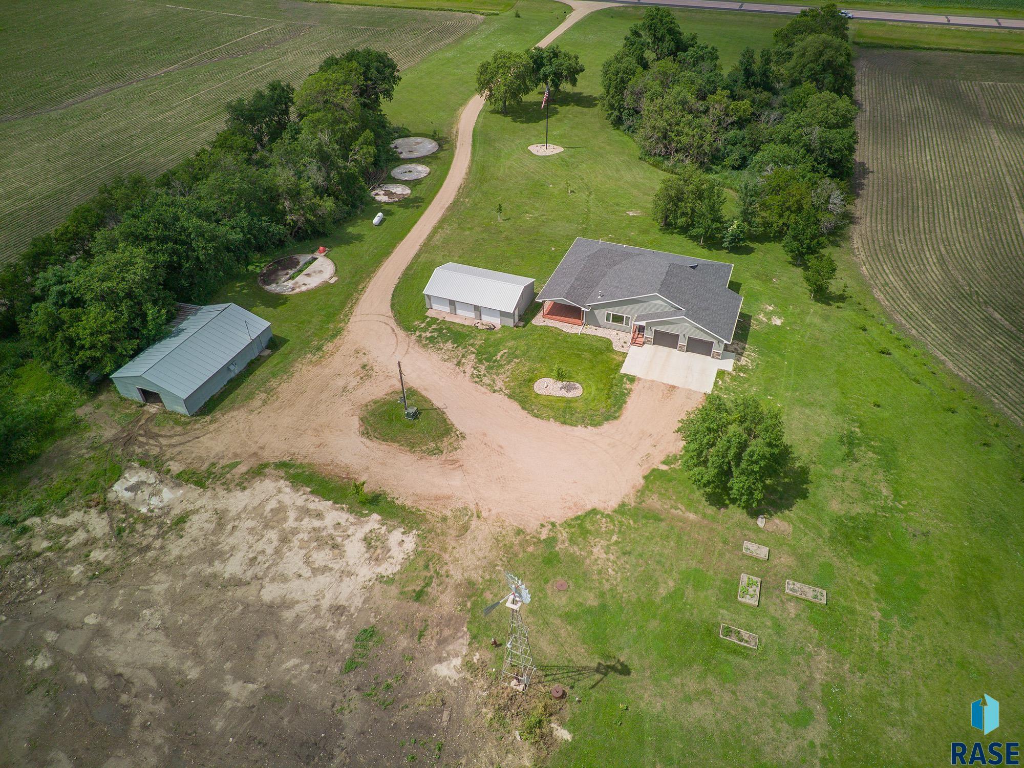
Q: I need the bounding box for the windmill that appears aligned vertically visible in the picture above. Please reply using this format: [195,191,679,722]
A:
[481,572,537,698]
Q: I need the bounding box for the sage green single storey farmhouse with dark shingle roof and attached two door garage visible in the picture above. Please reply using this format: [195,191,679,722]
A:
[535,237,744,360]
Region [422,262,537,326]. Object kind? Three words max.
building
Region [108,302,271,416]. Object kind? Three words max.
barn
